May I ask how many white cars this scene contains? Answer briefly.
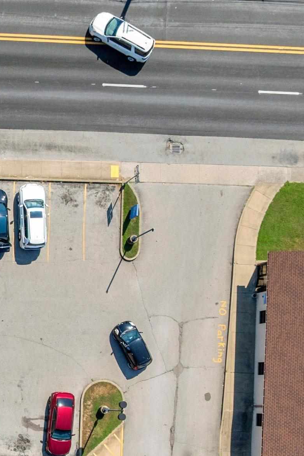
two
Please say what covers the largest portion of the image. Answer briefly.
paved ground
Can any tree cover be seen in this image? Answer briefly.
No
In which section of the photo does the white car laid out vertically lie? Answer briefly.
left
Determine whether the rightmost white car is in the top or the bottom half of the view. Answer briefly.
top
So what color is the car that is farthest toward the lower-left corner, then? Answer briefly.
red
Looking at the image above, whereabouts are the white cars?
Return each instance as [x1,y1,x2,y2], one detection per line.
[19,184,51,250]
[88,13,158,65]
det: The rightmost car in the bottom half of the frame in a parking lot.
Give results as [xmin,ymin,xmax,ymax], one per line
[113,318,154,373]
